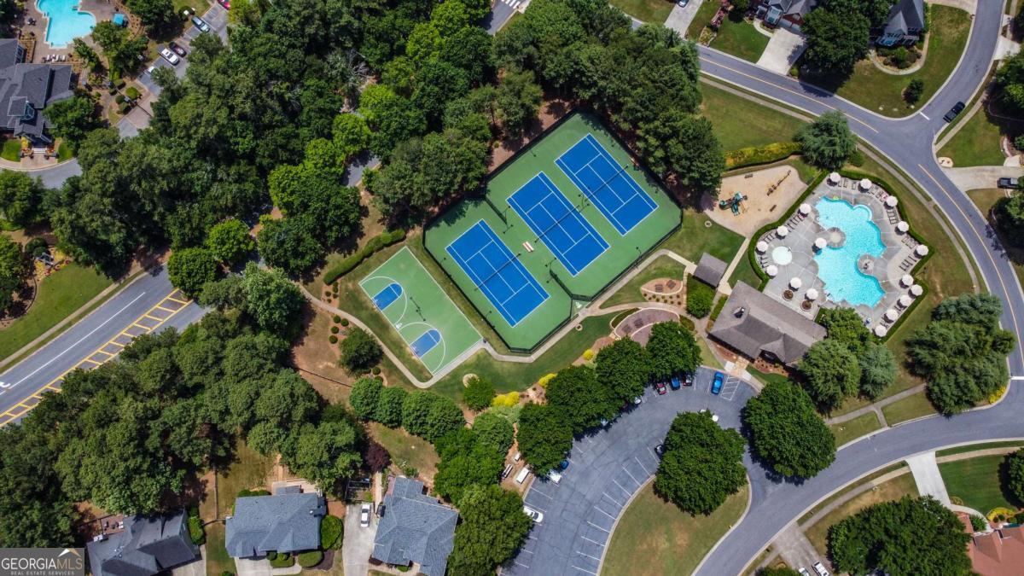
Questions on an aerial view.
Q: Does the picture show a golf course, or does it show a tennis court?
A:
tennis court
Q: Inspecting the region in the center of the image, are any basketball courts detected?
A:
Yes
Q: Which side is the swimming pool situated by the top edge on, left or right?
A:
left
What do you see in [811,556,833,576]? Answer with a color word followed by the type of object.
white vehicle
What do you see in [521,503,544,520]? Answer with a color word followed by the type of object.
white car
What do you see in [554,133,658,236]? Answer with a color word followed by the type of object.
blue tennis court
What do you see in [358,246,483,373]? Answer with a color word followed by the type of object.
green basketball court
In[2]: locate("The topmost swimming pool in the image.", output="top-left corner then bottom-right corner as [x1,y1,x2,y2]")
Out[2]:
[35,0,97,50]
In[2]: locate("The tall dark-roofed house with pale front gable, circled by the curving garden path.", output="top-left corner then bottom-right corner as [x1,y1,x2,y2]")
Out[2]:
[875,0,928,48]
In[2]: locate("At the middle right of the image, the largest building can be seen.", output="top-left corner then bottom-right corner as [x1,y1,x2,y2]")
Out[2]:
[708,280,824,376]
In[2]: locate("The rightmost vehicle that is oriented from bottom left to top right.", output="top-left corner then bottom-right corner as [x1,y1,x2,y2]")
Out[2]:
[944,99,965,122]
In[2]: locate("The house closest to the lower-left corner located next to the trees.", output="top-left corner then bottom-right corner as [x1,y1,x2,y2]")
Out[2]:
[88,509,199,576]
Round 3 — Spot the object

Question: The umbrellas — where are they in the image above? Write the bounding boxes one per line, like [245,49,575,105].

[805,288,819,300]
[814,237,827,249]
[898,295,911,307]
[789,278,802,289]
[765,265,778,277]
[915,244,928,256]
[756,240,768,253]
[896,221,909,233]
[776,225,788,237]
[873,325,887,337]
[900,274,914,286]
[885,309,898,321]
[859,178,872,190]
[909,284,923,297]
[885,195,898,207]
[798,203,811,215]
[829,172,841,183]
